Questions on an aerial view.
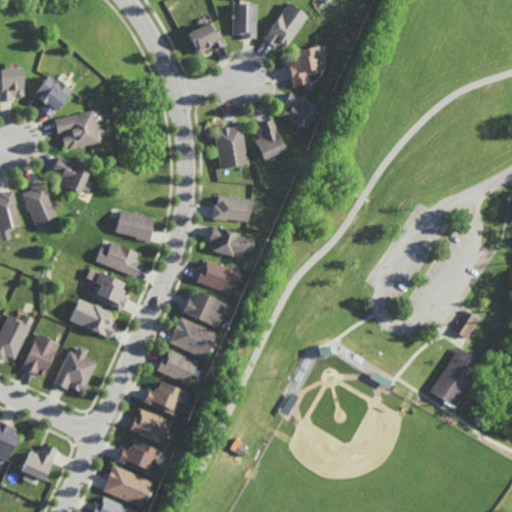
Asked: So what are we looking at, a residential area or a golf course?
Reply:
residential area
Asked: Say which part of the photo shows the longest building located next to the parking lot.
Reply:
bottom right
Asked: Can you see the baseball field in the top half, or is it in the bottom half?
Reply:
bottom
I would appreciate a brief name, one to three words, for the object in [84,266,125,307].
house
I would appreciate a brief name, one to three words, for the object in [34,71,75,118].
house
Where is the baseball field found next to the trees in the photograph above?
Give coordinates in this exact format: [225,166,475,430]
[232,358,512,512]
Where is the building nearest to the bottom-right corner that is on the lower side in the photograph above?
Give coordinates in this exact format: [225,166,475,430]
[434,347,474,408]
